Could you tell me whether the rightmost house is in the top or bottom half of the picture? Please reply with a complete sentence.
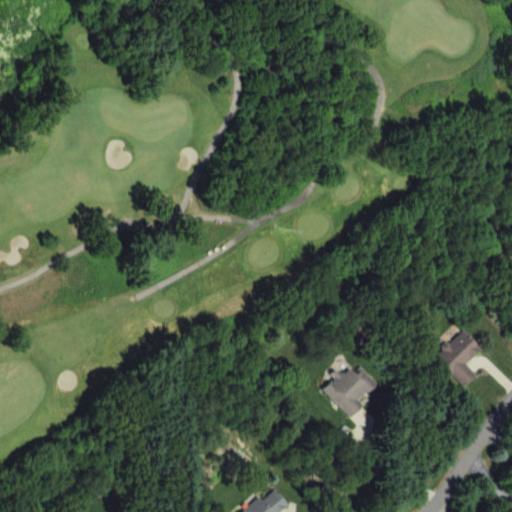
The rightmost house is in the bottom half of the image.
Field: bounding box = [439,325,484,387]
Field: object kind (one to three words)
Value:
house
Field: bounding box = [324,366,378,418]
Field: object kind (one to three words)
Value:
house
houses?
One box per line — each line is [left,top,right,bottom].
[324,366,378,418]
[439,325,484,387]
[243,489,293,512]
